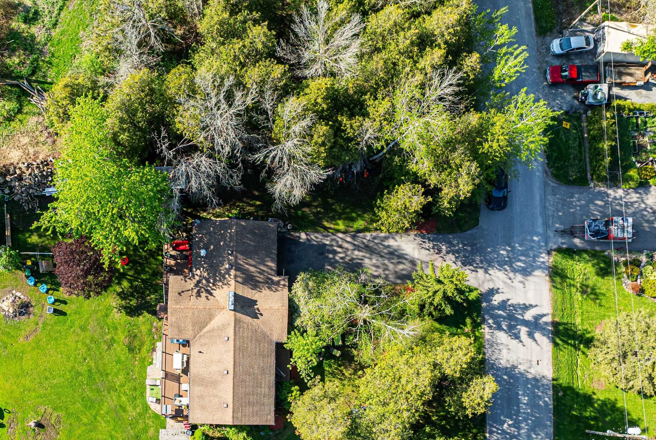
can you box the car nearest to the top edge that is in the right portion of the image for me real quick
[548,36,594,57]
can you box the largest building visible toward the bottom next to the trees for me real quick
[167,217,290,426]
